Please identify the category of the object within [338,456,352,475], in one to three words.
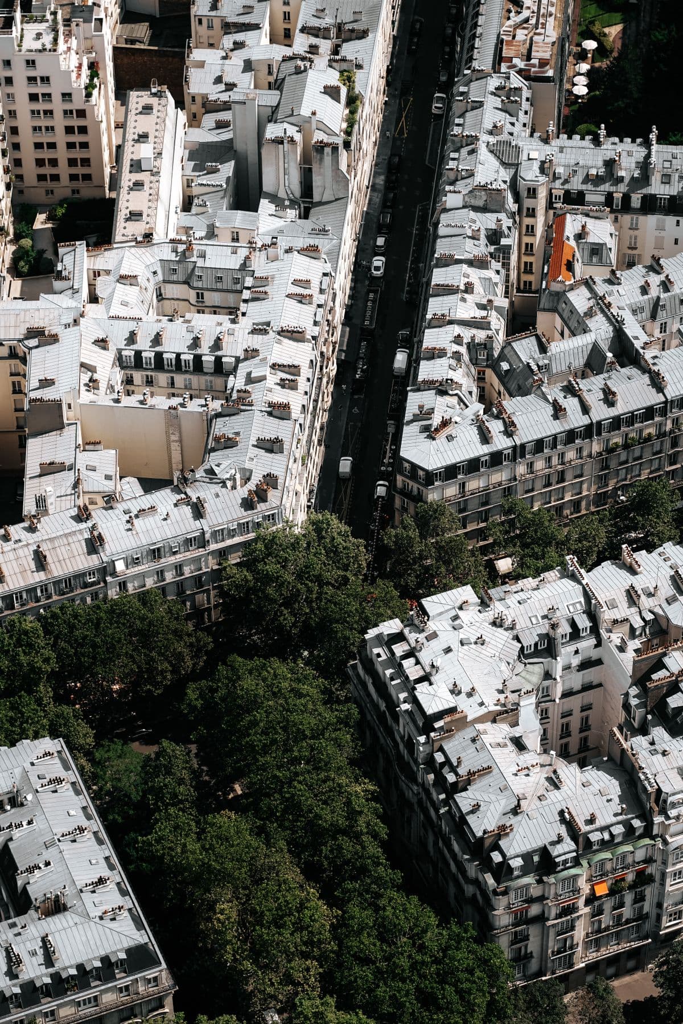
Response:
vehicle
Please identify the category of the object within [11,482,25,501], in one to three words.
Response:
car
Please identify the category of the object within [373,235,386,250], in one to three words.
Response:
vehicle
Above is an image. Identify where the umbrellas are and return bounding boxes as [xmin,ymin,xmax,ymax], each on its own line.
[573,78,588,88]
[572,88,587,96]
[575,66,590,73]
[582,42,596,50]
